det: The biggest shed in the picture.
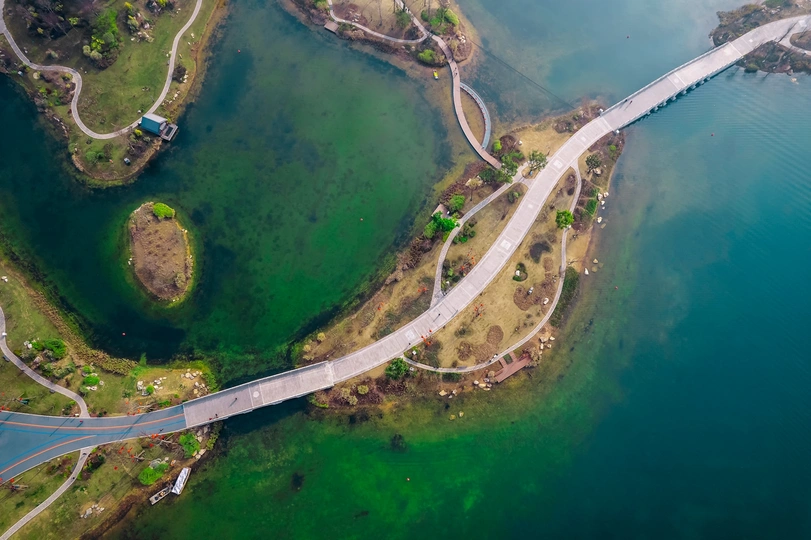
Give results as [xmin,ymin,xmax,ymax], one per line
[139,113,168,135]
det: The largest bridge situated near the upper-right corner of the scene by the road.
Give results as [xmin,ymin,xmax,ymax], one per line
[600,40,744,131]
